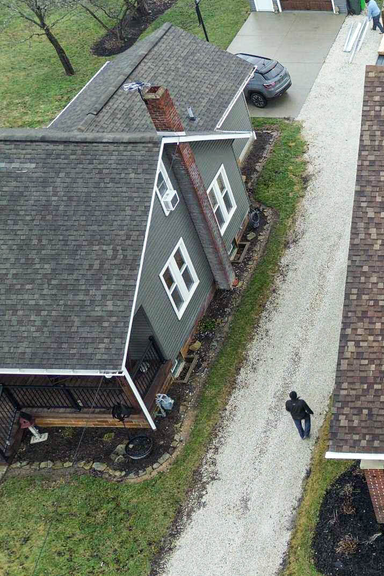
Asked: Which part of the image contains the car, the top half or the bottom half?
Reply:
top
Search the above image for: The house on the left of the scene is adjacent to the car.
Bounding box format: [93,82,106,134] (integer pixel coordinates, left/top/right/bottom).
[0,21,264,478]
